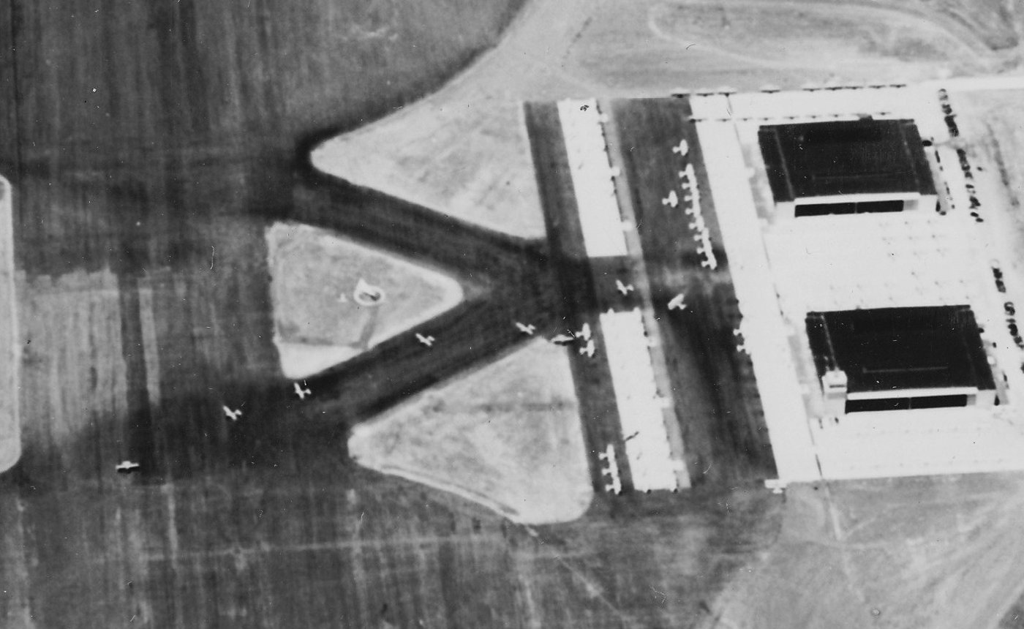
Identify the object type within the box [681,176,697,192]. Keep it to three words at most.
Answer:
airplane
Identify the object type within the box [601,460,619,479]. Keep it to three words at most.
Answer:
airplane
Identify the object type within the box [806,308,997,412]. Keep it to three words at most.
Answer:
hangar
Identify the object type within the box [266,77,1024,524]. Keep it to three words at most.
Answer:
airport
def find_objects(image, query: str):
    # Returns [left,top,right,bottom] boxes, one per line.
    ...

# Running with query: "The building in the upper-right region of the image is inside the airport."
[759,121,938,218]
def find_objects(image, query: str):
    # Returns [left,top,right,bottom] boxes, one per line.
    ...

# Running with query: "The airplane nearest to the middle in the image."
[516,322,535,335]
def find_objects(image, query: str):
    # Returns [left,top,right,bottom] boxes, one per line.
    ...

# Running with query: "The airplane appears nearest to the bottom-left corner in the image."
[117,458,139,472]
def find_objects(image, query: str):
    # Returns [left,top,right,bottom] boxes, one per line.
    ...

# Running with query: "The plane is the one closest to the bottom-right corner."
[765,481,787,497]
